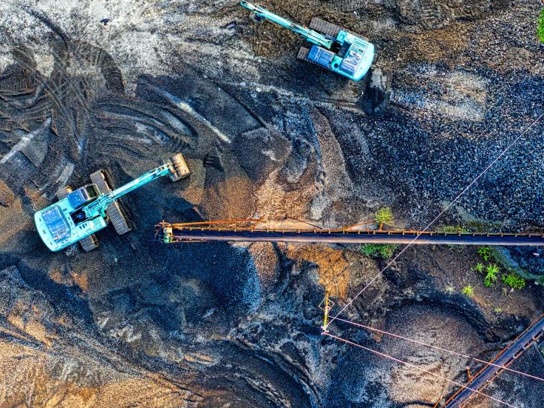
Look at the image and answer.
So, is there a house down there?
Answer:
No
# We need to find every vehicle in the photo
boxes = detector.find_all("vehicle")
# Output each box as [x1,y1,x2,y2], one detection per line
[40,153,201,254]
[252,0,380,82]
